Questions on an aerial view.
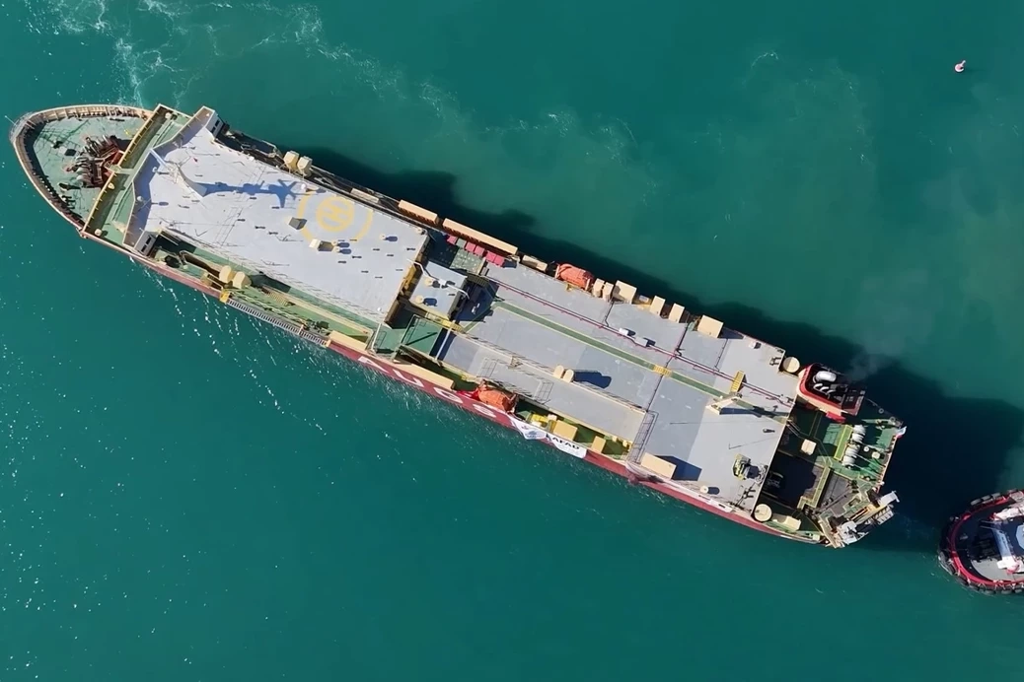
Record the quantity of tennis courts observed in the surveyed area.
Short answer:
none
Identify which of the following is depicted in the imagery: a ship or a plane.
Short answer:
ship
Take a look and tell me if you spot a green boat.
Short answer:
No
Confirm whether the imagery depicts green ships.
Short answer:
No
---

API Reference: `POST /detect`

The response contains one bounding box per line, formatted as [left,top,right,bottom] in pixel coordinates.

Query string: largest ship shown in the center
[2,105,912,550]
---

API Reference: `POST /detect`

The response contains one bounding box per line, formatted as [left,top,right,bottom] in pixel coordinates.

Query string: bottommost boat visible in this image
[938,486,1024,593]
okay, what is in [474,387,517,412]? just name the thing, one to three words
boat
